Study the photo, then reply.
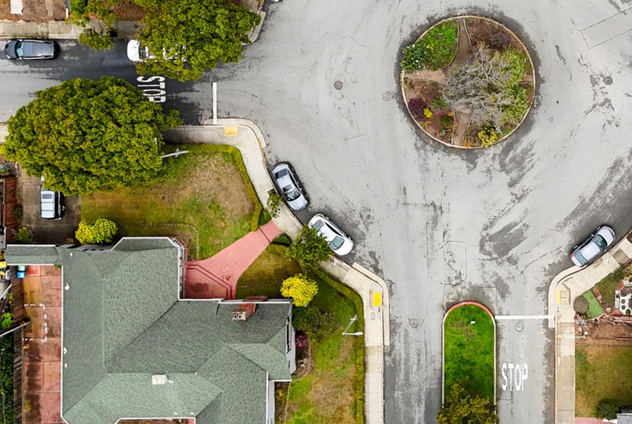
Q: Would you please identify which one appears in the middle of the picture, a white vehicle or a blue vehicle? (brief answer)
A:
white vehicle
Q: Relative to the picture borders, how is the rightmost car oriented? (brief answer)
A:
diagonally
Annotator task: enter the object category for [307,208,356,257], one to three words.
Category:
car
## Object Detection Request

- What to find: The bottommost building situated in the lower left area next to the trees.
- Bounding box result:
[4,235,296,424]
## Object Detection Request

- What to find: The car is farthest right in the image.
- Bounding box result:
[567,221,618,269]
